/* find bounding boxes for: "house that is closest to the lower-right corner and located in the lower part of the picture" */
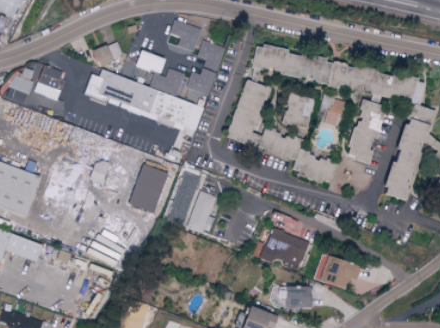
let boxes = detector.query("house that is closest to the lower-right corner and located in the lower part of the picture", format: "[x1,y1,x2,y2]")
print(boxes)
[315,254,362,289]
